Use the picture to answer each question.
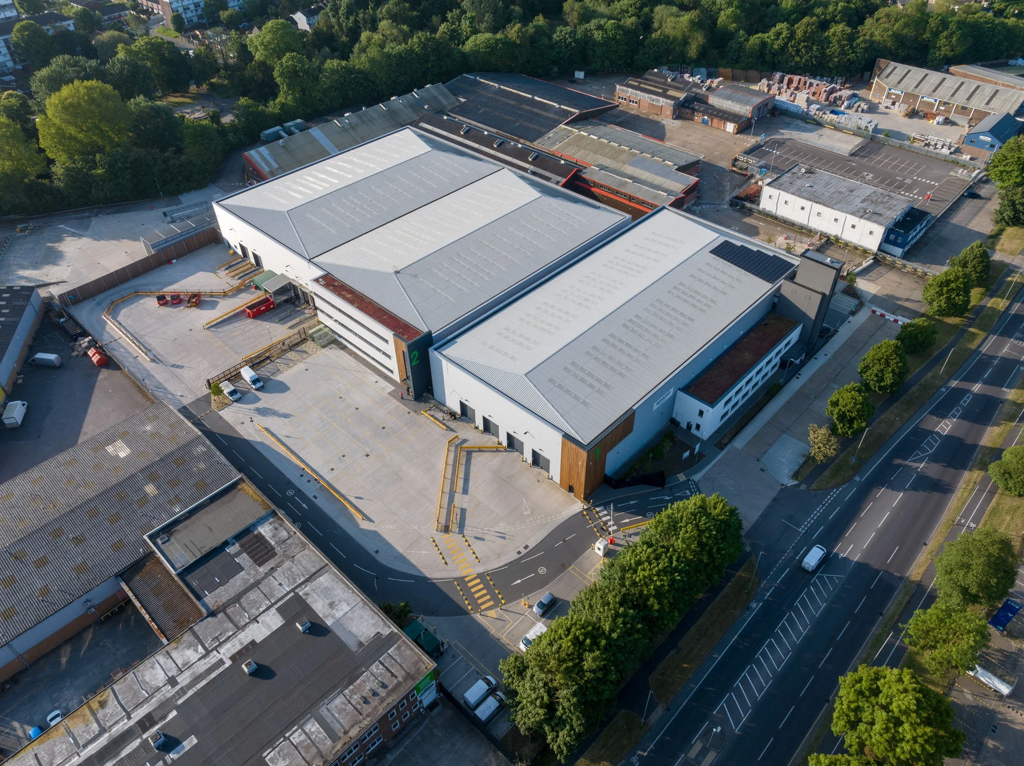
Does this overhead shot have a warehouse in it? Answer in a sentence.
Yes, looking at the shot, I can spot a warehouse.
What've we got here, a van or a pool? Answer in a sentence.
Looking from above, you can make out a van.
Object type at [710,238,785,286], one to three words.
solar array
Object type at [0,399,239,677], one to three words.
warehouse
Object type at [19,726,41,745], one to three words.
car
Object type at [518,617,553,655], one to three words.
van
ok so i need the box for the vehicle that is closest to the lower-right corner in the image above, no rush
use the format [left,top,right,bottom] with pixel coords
[800,545,827,574]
